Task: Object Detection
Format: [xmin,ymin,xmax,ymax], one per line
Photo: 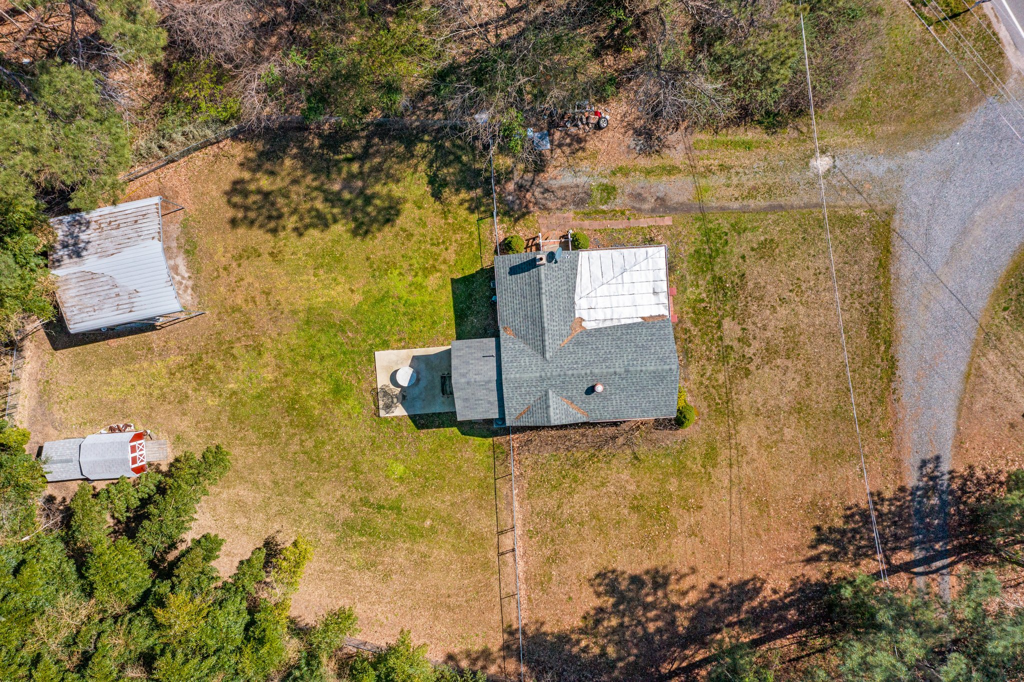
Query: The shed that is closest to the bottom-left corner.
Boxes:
[36,435,149,489]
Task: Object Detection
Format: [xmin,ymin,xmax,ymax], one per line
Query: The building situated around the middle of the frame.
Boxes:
[452,243,678,429]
